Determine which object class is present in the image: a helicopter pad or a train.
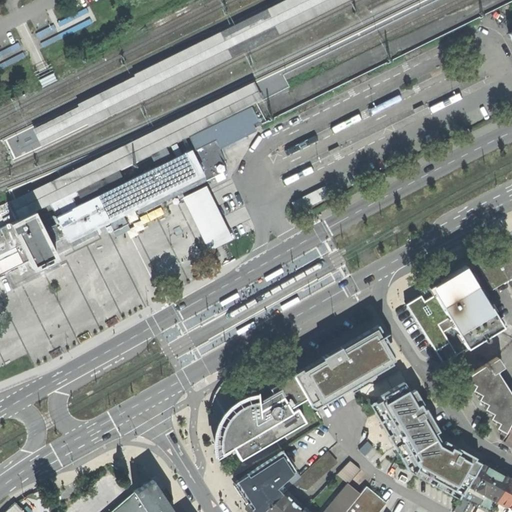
train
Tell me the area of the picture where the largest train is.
center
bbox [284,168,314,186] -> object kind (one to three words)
vehicle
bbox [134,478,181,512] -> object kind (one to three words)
building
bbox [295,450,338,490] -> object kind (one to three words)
building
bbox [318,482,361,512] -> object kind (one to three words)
house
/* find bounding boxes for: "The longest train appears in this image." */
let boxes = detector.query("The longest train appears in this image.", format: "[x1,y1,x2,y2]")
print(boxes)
[231,266,322,316]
